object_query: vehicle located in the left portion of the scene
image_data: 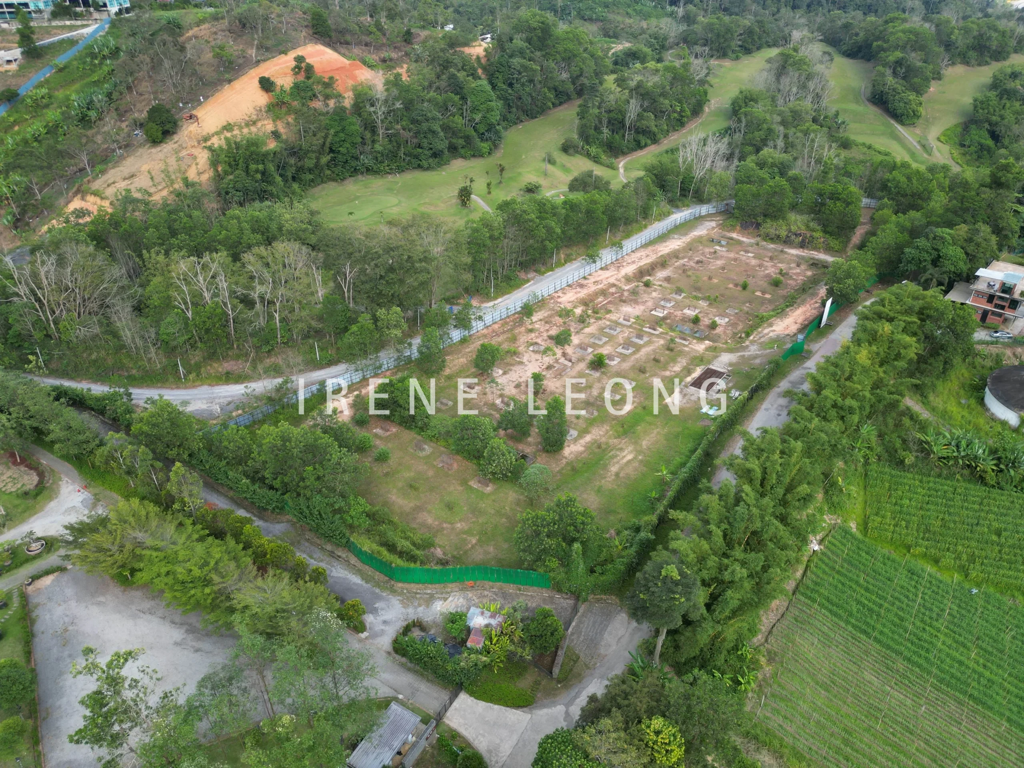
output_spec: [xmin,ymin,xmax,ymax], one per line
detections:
[181,108,204,122]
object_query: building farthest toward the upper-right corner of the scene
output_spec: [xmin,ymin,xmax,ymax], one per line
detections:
[922,258,1024,330]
